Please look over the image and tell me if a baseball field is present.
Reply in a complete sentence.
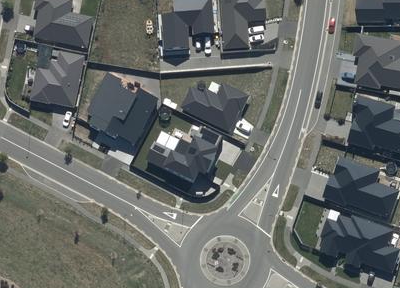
No, I can't see a single baseball field in this photo.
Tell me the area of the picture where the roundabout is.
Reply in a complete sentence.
The roundabout is located in the bottom region of the scene.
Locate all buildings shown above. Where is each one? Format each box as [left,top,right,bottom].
[88,73,158,146]
[322,158,399,224]
[356,0,400,24]
[144,127,222,186]
[318,216,398,274]
[161,0,214,52]
[182,84,249,135]
[348,34,400,92]
[346,95,400,153]
[32,52,84,108]
[220,0,266,52]
[28,0,94,50]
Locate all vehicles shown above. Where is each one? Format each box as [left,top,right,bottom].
[62,111,72,128]
[340,71,350,78]
[236,121,252,134]
[328,18,336,34]
[314,90,322,107]
[250,34,264,42]
[250,26,264,34]
[368,272,375,286]
[204,38,211,54]
[390,232,400,247]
